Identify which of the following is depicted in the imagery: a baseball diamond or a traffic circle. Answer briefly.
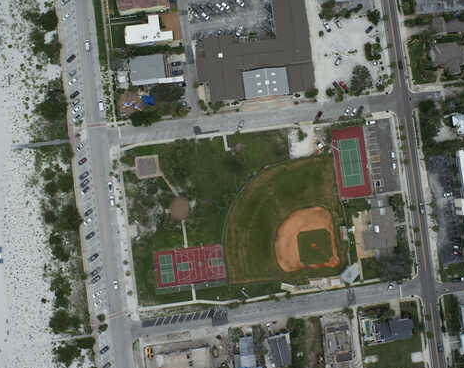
baseball diamond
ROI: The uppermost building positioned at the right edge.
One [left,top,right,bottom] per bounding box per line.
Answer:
[429,17,464,34]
